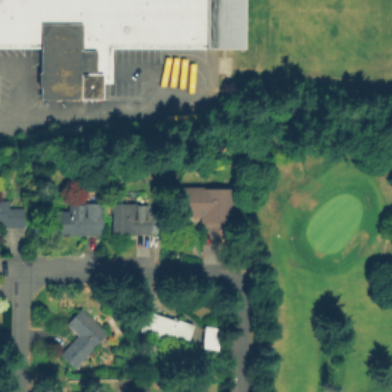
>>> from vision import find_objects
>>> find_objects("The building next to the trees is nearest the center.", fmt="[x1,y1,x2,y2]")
[186,188,233,230]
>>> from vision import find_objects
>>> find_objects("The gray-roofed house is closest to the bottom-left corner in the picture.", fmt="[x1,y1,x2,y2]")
[64,308,108,368]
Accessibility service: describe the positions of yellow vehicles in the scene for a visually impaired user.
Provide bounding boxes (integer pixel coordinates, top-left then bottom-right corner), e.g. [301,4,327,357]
[170,57,180,90]
[161,56,172,89]
[180,58,189,91]
[188,63,198,96]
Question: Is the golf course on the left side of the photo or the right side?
right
